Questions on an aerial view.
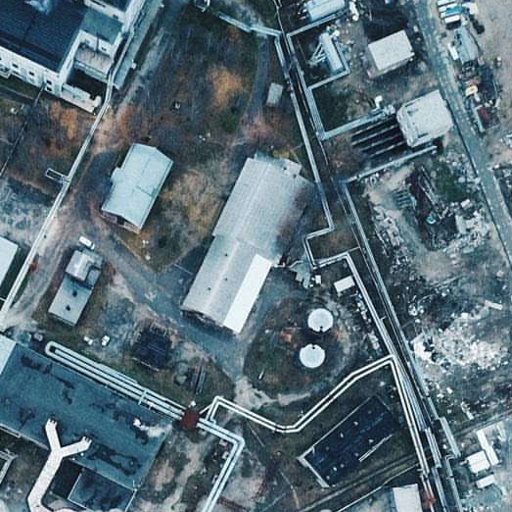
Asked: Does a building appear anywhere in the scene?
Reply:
Yes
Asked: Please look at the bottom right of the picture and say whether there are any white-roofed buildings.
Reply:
Yes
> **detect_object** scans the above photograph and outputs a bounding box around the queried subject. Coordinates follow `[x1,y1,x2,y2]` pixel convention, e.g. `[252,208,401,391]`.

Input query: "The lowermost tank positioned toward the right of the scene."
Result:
[295,343,325,372]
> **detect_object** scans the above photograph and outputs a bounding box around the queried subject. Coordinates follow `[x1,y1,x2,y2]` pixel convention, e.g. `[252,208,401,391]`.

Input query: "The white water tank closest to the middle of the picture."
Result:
[303,308,333,337]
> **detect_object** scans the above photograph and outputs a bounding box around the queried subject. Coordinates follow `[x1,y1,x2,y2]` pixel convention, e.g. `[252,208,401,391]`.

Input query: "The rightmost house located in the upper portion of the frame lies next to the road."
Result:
[390,89,455,155]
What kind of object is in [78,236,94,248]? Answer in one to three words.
vehicle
